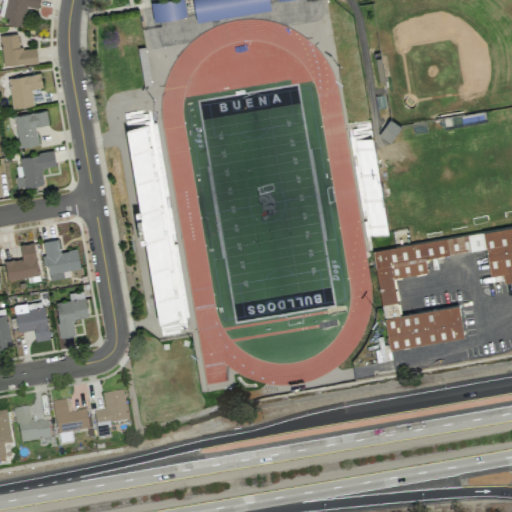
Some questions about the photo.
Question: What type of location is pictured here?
sports ground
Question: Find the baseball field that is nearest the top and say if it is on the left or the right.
right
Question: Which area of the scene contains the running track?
center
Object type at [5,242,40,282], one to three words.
house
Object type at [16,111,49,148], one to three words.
house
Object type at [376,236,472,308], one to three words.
building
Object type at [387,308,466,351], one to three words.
building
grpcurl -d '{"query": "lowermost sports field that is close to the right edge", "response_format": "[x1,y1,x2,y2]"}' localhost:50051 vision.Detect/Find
[382,107,512,245]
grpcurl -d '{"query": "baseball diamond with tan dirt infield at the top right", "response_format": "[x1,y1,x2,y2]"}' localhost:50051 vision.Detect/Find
[388,0,512,123]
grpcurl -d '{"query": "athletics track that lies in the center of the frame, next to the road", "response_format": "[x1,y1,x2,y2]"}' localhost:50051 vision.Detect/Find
[162,20,372,384]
